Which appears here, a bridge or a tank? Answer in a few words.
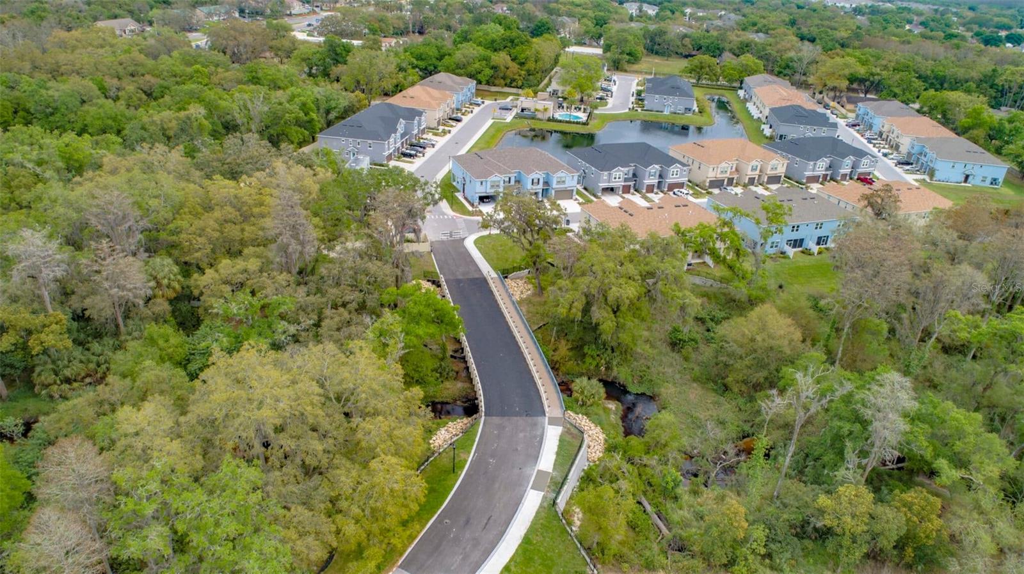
bridge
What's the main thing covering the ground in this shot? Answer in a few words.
trees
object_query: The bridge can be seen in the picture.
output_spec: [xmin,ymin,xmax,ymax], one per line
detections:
[442,271,566,422]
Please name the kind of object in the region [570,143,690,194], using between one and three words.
house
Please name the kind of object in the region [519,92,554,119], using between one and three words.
building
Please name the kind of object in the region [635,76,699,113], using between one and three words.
house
